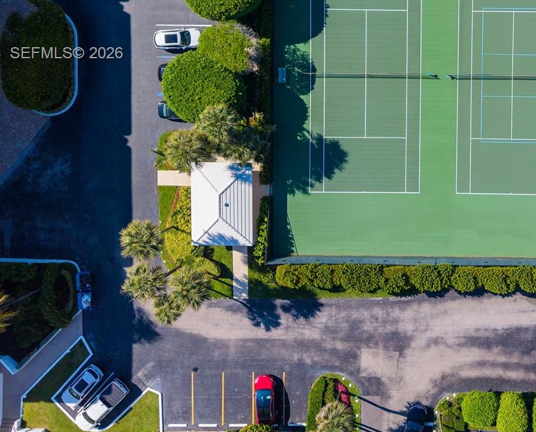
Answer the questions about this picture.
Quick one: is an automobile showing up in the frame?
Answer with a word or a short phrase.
Yes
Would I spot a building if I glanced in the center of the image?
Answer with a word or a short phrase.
Yes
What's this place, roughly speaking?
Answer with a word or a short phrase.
sports ground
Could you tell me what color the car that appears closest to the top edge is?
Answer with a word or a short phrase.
white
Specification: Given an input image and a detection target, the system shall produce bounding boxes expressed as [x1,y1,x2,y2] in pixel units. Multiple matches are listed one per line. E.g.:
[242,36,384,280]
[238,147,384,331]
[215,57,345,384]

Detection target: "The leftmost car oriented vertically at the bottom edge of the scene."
[253,375,276,425]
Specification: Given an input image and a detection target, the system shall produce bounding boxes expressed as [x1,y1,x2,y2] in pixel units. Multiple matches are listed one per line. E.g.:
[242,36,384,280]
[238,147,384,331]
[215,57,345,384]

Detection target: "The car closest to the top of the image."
[154,28,199,50]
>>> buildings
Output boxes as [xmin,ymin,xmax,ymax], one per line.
[190,160,258,247]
